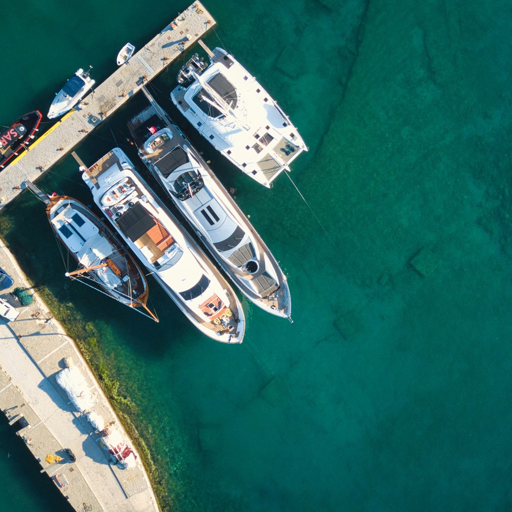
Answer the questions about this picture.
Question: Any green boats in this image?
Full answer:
No, the scene contains no green boat.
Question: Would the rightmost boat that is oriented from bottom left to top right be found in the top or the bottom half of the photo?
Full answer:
Seen from above, the rightmost boat that is oriented from bottom left to top right lies in the top half of the view.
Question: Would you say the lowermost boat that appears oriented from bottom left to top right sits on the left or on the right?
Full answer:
It is on the left.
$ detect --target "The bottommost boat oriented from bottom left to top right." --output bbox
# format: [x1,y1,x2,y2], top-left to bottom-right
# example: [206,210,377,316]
[102,174,139,205]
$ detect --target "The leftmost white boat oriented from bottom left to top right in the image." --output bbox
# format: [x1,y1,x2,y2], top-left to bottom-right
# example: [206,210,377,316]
[46,65,97,119]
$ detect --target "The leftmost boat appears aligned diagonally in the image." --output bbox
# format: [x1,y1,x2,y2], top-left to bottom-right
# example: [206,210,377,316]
[0,108,43,168]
